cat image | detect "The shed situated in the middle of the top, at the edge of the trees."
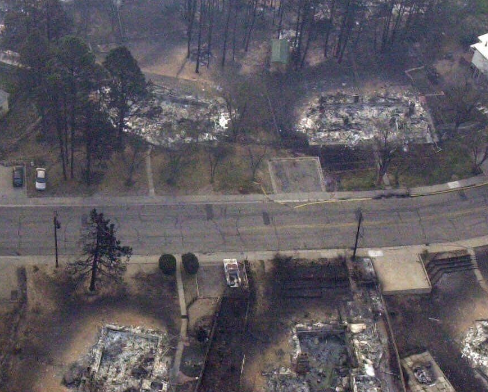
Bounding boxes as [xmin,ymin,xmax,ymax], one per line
[271,37,291,71]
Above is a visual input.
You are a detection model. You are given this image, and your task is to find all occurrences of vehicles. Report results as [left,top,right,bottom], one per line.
[226,259,240,284]
[35,168,46,188]
[13,161,24,186]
